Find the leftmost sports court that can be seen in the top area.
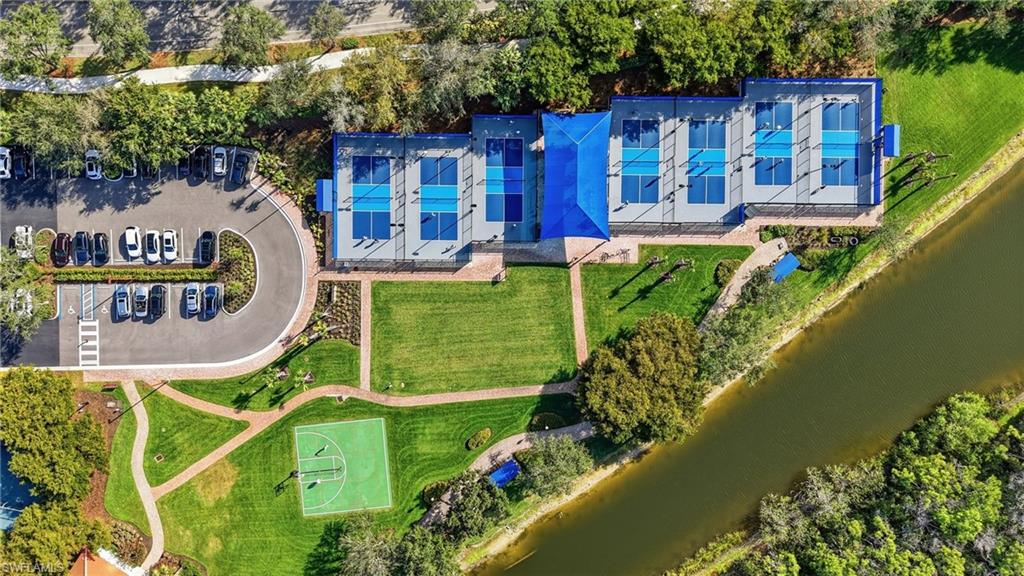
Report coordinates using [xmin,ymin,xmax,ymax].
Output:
[337,137,403,260]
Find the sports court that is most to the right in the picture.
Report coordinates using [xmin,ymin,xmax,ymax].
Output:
[810,82,875,204]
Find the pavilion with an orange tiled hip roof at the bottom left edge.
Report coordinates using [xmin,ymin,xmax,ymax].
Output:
[66,543,136,576]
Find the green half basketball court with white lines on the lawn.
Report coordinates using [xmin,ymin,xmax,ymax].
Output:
[294,418,392,517]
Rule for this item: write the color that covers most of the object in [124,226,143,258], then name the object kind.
white car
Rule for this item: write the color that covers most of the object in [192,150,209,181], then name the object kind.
black car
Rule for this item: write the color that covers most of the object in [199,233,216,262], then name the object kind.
black car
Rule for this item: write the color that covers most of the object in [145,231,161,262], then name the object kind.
white car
